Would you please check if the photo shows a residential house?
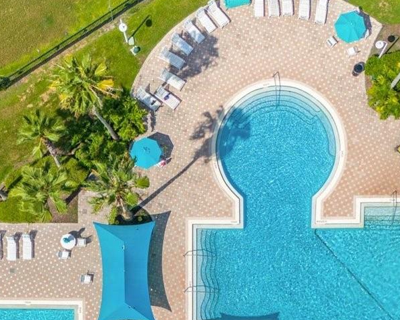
No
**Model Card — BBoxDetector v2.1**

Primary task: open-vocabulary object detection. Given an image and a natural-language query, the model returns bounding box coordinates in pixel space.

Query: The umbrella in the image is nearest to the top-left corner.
[131,137,163,169]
